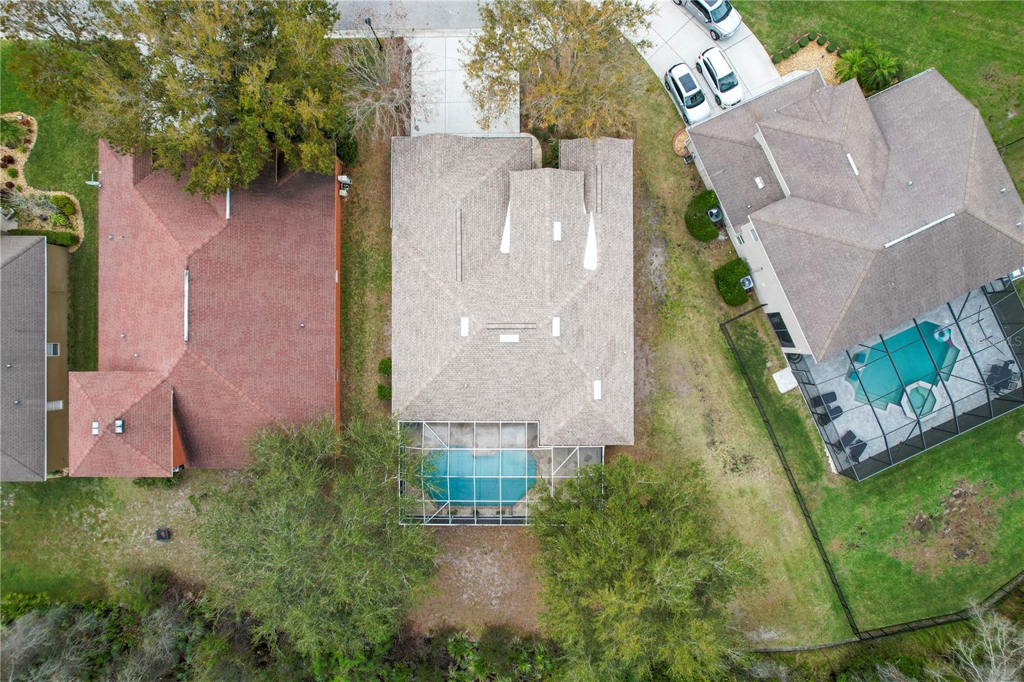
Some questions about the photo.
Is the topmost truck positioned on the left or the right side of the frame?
right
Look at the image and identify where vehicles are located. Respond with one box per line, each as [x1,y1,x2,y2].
[677,0,744,41]
[665,60,714,127]
[696,42,747,109]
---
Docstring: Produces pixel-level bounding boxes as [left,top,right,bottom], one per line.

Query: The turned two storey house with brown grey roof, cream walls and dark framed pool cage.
[687,65,1024,364]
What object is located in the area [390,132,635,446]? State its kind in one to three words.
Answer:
house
